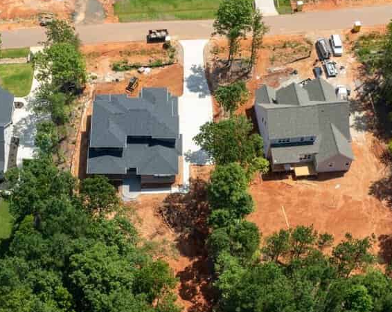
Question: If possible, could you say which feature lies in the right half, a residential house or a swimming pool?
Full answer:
Looking in the right half, you will find a residential house.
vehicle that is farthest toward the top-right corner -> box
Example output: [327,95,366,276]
[330,29,345,54]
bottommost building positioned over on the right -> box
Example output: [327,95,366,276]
[252,77,356,180]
